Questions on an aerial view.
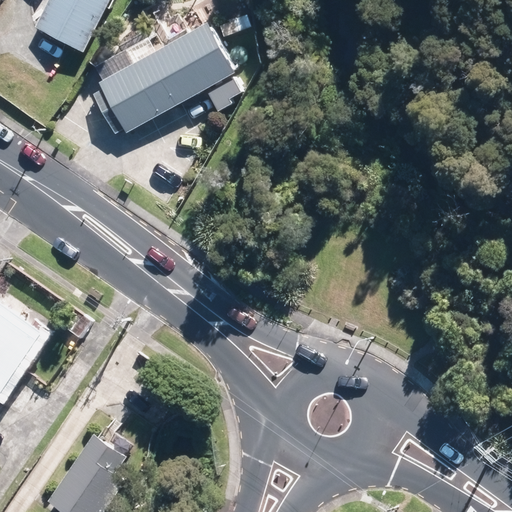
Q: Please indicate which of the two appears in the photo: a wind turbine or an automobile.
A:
automobile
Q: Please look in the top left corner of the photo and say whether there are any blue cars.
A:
Yes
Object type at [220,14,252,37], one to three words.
shed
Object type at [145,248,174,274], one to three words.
car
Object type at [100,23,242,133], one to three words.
house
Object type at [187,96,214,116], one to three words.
vehicle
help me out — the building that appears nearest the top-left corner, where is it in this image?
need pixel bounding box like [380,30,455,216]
[36,0,112,52]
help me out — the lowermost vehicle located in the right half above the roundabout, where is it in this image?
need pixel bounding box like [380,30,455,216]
[336,374,368,390]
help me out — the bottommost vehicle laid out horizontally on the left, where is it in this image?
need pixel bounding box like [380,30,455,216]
[176,135,204,150]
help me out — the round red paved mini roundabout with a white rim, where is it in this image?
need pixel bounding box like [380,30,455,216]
[308,392,352,437]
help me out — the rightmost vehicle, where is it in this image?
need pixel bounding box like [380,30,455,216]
[438,442,466,466]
